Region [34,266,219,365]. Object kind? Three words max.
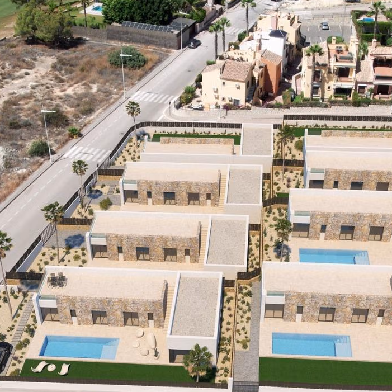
house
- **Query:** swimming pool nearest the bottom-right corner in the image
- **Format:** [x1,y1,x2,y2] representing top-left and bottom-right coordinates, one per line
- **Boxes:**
[273,334,354,357]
